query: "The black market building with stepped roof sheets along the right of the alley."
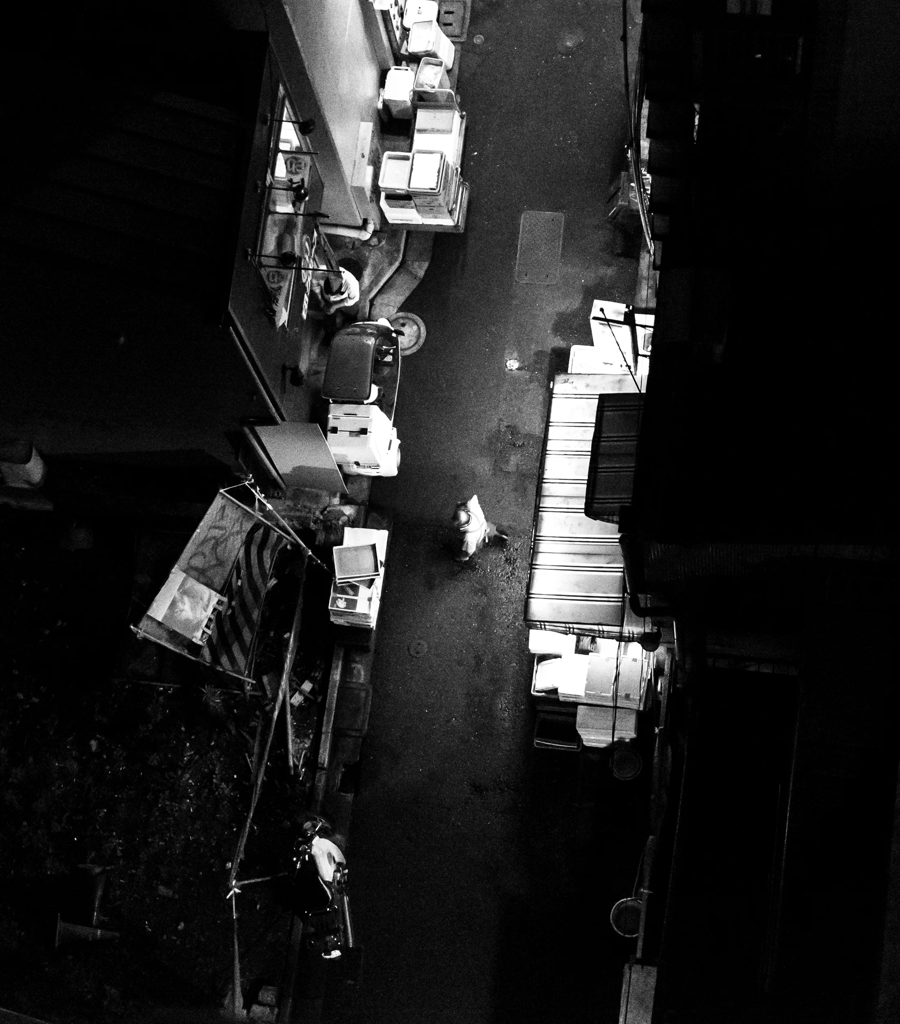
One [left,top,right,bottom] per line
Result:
[616,0,900,648]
